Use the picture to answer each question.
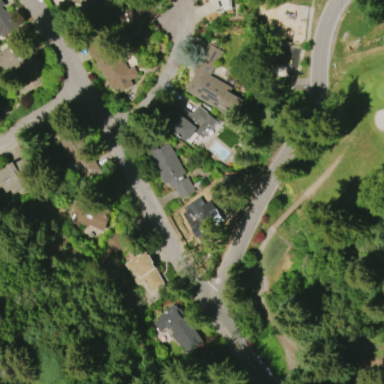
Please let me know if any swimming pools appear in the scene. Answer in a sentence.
Yes, looking at the shot, I can spot a swimming pool.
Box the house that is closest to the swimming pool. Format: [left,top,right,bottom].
[173,103,222,142]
